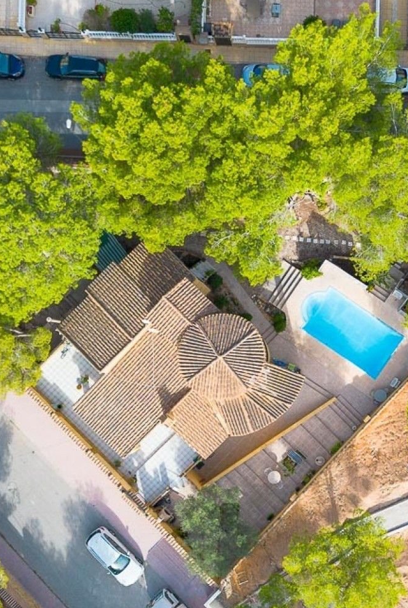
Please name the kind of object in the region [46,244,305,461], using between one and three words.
house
